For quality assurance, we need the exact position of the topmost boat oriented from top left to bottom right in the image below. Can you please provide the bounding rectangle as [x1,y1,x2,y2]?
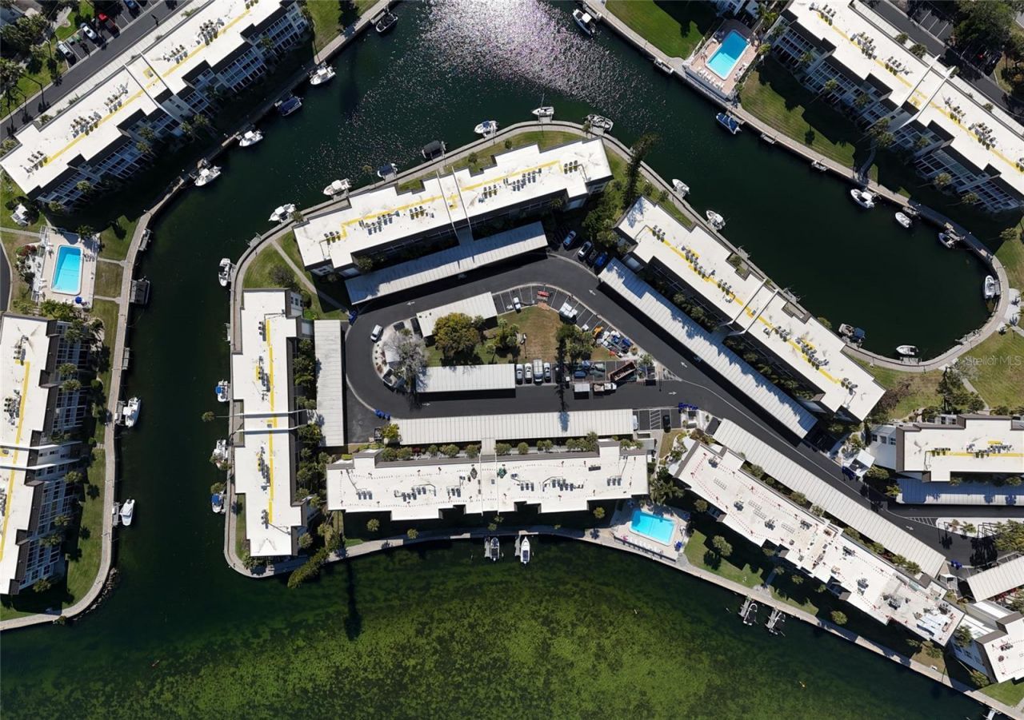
[574,10,596,37]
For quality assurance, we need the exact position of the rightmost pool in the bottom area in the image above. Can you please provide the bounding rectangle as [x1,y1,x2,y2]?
[609,498,687,560]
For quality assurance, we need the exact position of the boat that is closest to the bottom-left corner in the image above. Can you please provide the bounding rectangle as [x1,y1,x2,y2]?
[124,498,136,524]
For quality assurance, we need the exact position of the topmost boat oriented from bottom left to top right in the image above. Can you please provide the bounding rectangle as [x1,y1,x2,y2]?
[378,13,400,32]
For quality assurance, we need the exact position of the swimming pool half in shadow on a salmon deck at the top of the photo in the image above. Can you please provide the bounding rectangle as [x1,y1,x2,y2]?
[691,19,757,94]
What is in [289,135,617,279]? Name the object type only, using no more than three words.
building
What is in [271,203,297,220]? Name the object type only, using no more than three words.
boat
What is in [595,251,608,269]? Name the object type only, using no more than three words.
vehicle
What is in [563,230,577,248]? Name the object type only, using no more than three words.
car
